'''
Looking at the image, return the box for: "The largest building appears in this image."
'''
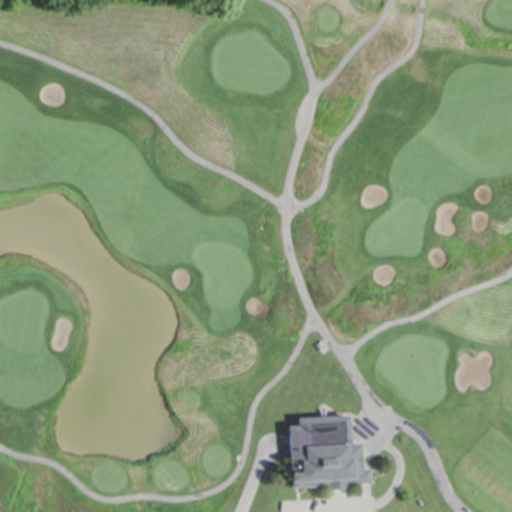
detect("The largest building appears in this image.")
[290,417,371,492]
